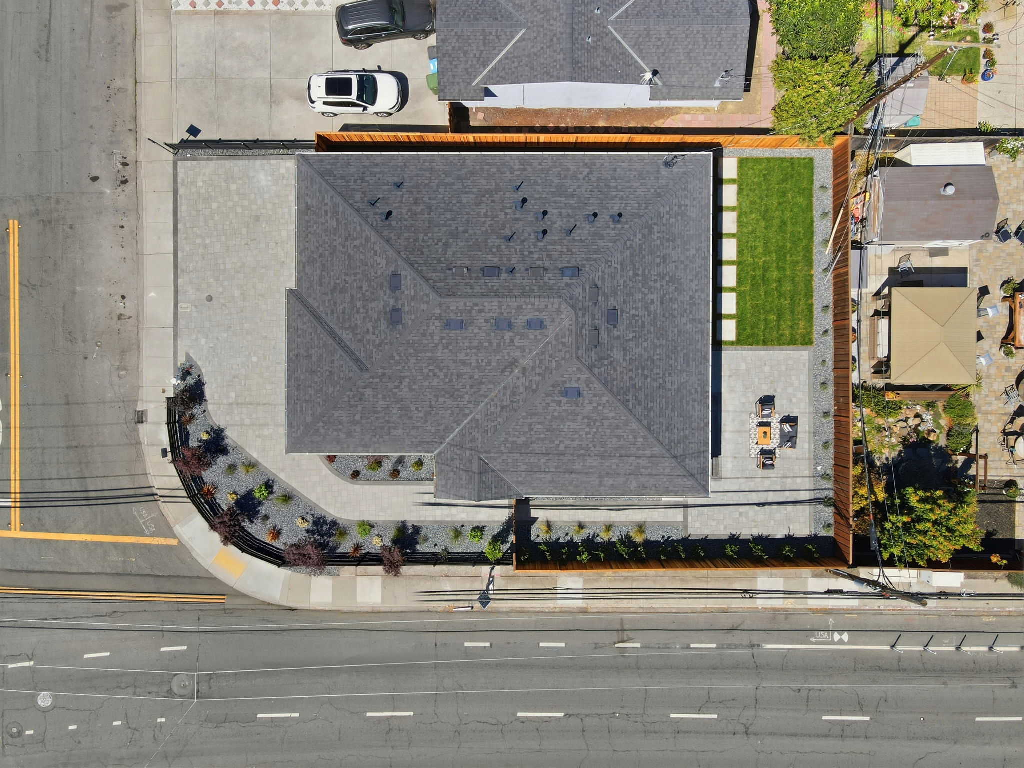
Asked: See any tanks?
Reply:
No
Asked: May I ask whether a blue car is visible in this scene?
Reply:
No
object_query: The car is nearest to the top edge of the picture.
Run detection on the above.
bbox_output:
[332,0,437,48]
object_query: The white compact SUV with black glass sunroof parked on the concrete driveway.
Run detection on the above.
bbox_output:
[306,65,402,118]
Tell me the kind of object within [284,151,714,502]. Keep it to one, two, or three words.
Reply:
house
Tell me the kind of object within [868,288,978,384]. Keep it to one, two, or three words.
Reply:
gazebo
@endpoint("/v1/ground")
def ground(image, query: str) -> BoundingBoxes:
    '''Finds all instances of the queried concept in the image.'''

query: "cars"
[306,65,402,118]
[332,0,437,48]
